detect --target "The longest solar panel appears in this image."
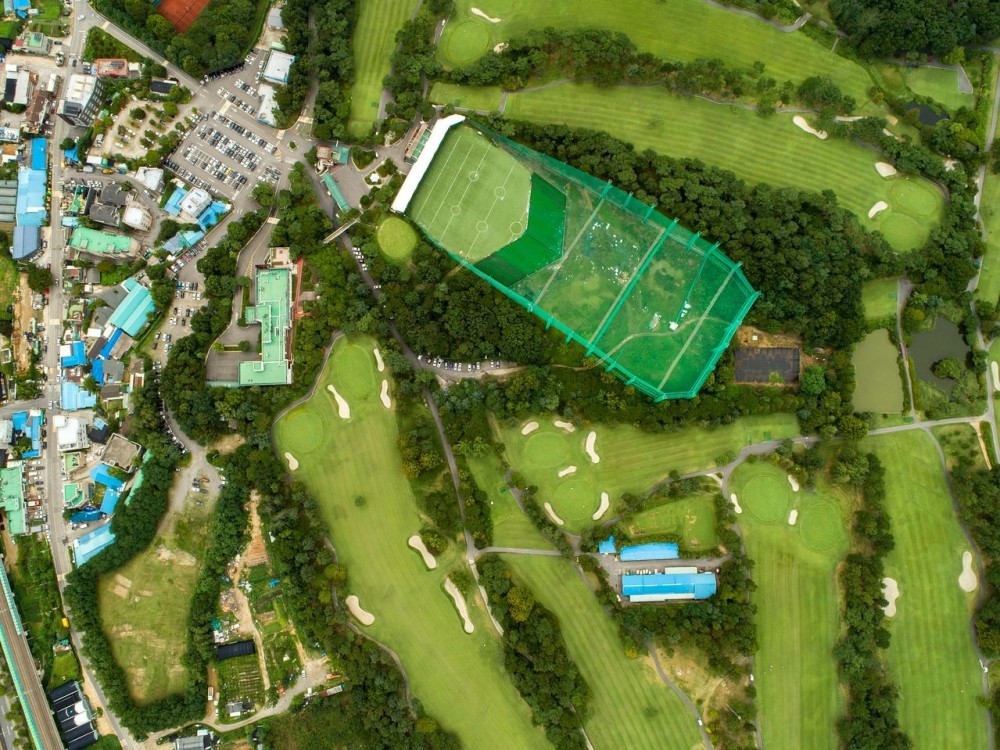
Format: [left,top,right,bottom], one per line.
[4,79,18,103]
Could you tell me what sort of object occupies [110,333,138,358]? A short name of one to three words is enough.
house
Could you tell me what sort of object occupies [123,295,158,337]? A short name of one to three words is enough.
building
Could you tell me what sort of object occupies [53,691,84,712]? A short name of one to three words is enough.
greenhouse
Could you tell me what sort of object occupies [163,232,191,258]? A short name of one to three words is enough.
shed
